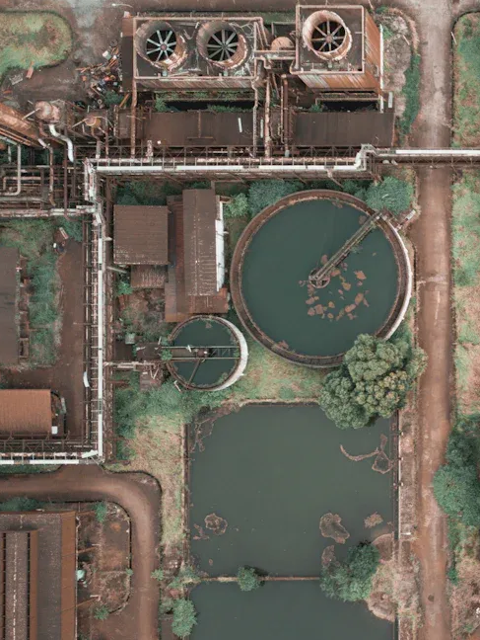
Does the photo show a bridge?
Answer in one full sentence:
Yes, there's a bridge down there.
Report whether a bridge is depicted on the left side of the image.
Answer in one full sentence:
No, no bridge appears on the left side of the image.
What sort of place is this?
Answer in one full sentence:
This looks like an industrial area.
